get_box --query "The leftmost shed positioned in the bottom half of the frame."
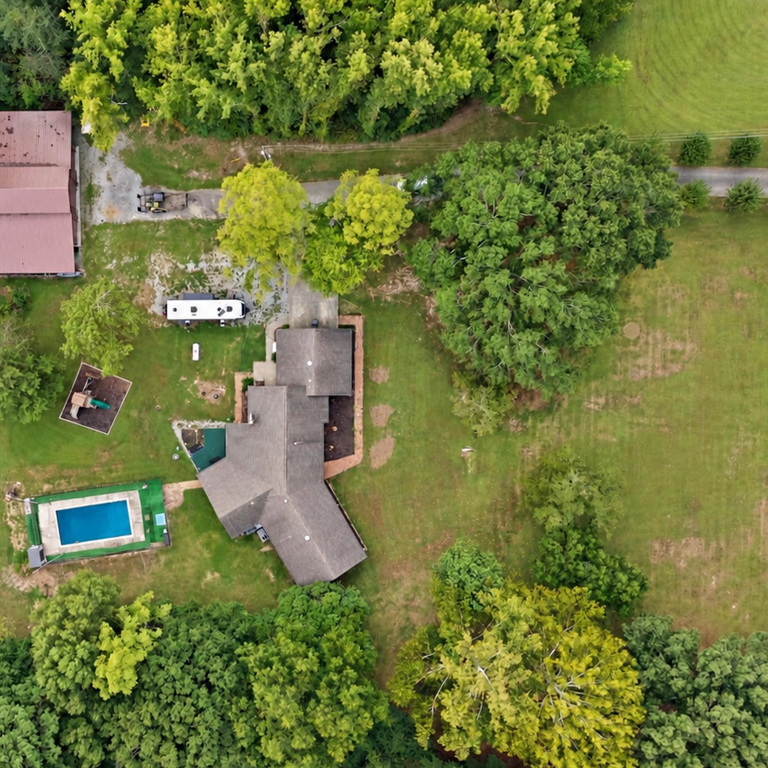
[27,544,51,568]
